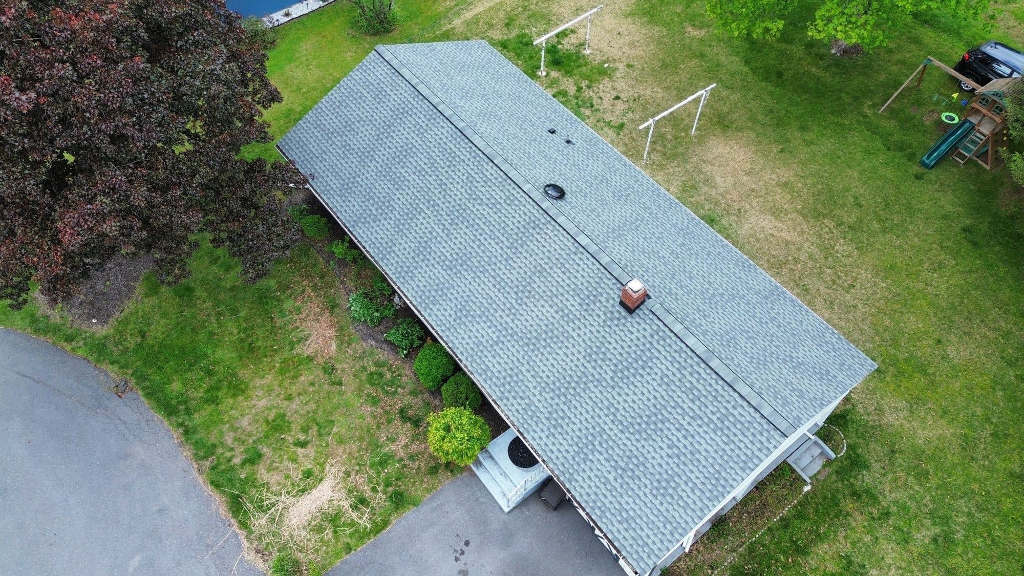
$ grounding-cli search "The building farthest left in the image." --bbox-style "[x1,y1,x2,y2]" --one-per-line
[273,40,879,576]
